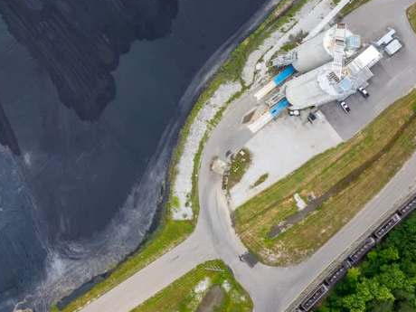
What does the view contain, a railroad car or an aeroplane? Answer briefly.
railroad car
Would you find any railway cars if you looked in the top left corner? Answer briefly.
No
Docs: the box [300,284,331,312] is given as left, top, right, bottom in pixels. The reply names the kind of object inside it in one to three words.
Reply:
rail car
